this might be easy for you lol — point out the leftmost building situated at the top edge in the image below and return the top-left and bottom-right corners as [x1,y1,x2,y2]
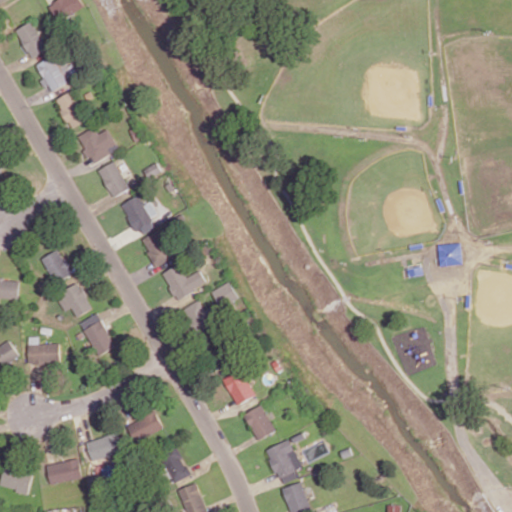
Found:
[15,23,46,58]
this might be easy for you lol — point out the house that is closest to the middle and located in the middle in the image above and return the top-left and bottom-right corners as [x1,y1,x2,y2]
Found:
[212,282,242,304]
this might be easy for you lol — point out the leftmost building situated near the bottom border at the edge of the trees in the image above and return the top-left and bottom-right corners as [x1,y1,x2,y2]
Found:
[2,472,36,494]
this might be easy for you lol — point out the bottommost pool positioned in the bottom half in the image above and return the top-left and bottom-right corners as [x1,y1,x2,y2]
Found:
[303,440,330,462]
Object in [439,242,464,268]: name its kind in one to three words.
building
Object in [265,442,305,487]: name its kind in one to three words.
house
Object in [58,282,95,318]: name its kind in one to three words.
house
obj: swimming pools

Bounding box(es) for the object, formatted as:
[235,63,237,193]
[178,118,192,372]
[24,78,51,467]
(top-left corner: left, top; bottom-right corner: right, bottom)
[262,372,278,387]
[303,440,330,462]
